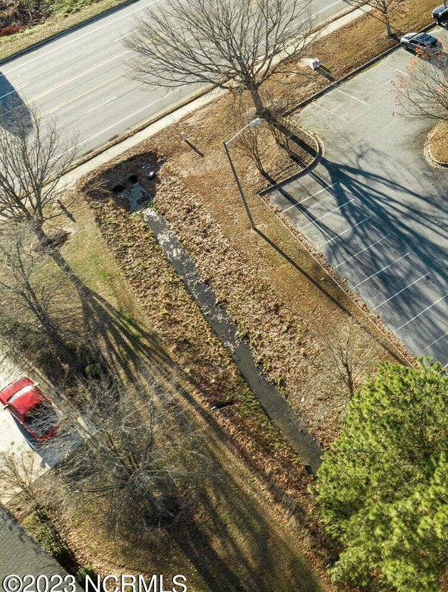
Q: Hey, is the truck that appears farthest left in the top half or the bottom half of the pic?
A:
bottom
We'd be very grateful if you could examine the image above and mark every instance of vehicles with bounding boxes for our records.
[0,377,71,448]
[430,4,448,24]
[397,30,446,56]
